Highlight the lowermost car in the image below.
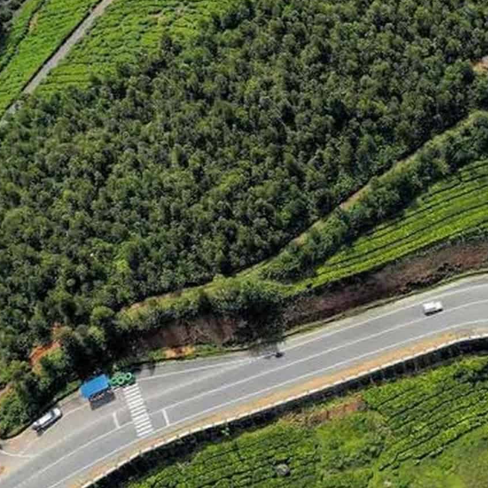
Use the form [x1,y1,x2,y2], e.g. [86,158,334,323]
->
[33,410,63,432]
